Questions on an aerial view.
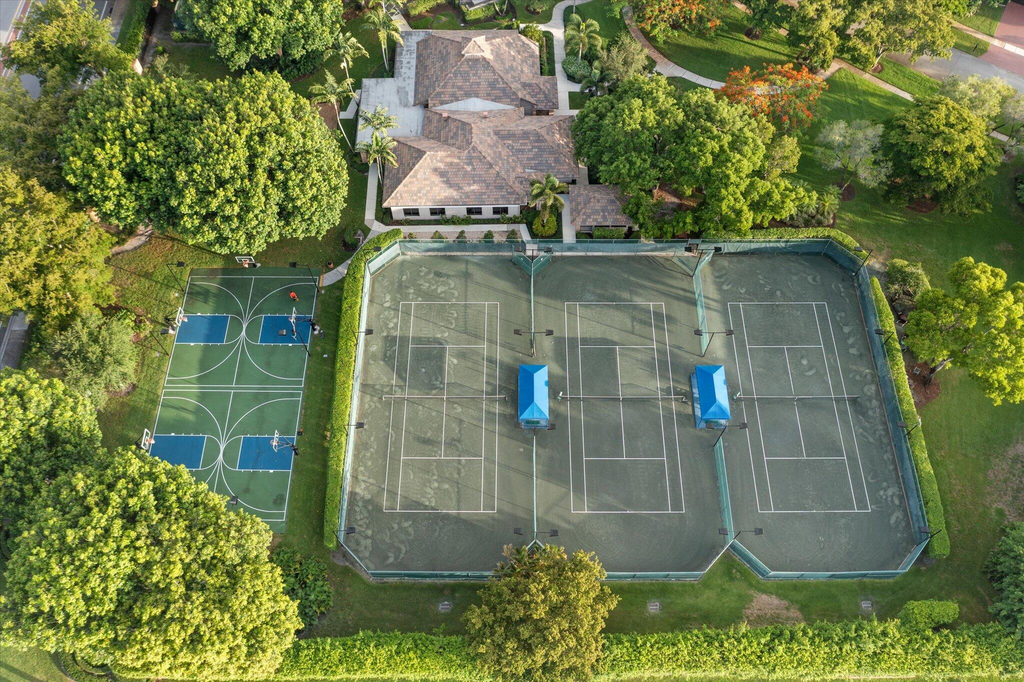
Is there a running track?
No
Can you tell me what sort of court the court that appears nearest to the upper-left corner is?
basketball court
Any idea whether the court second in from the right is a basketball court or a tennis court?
tennis court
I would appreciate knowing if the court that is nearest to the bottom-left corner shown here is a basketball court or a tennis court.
basketball court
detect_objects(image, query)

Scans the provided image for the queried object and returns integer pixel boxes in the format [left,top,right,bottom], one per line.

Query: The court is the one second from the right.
[531,255,731,579]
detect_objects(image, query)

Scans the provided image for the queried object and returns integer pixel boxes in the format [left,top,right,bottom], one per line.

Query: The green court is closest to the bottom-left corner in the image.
[141,388,305,534]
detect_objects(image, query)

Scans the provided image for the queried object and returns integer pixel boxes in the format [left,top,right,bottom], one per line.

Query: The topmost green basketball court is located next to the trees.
[162,268,321,388]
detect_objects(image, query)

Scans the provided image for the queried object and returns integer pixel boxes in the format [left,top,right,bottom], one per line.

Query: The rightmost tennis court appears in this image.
[691,255,916,578]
